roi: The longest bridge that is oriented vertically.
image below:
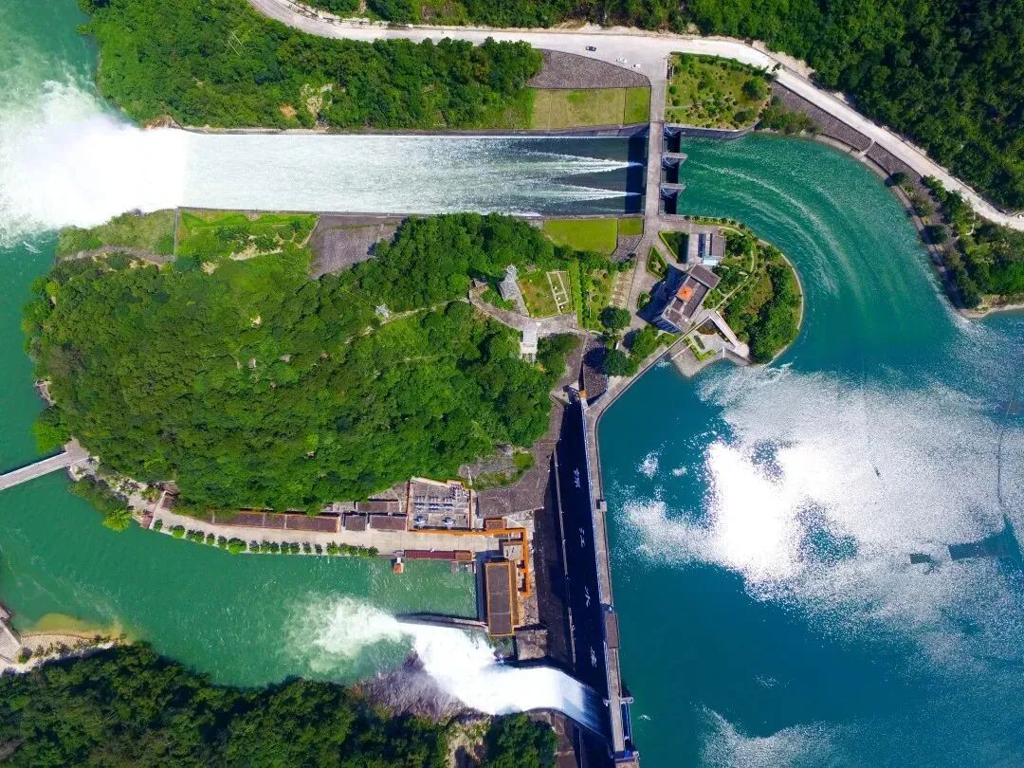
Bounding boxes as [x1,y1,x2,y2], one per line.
[642,123,688,220]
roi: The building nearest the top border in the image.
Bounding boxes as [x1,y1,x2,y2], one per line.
[683,234,726,266]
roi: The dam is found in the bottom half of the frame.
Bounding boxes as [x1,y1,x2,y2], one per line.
[524,400,645,768]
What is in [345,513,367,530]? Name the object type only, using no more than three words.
building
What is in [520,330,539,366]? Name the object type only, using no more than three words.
building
